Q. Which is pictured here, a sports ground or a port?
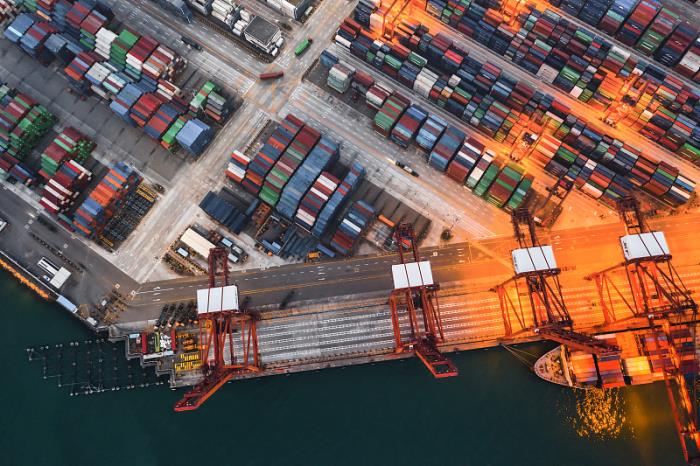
port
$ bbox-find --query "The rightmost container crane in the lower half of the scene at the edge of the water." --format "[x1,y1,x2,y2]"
[578,197,700,458]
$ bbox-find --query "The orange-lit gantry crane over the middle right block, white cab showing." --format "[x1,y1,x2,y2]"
[603,67,651,121]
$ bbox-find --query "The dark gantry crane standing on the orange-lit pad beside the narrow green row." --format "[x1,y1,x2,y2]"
[529,173,573,226]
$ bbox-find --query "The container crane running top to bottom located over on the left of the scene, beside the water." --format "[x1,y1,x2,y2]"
[172,247,265,417]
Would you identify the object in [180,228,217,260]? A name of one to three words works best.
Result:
shed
